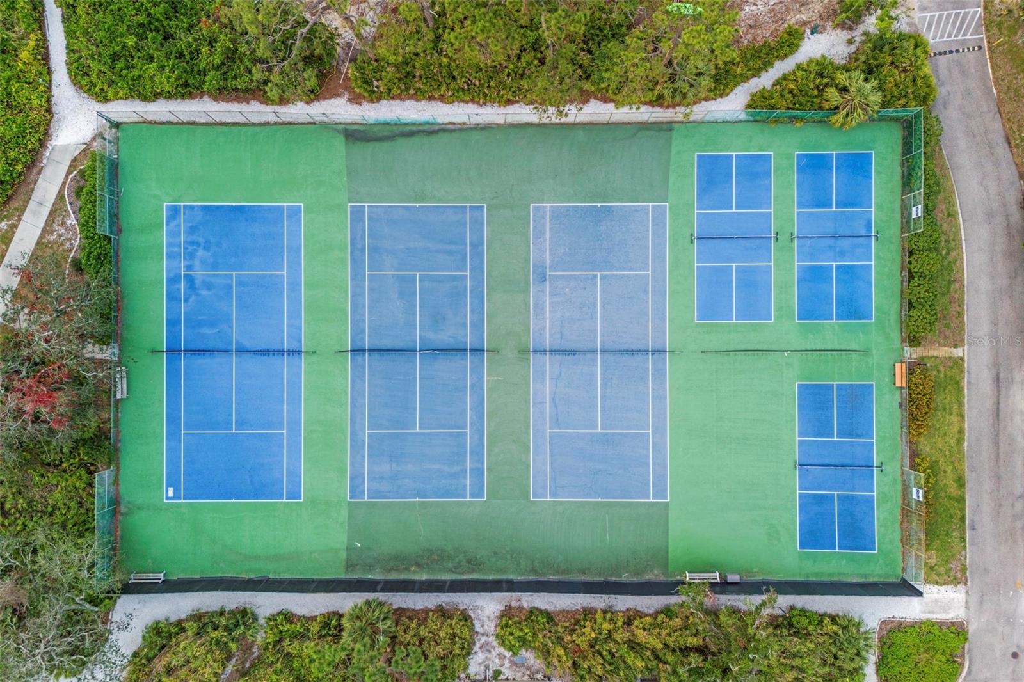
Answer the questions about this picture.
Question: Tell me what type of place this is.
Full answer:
The area seen from above is a sports ground.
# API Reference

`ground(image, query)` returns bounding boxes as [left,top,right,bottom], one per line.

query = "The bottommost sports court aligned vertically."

[797,383,876,552]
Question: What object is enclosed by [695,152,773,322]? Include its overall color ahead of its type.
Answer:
blue sports court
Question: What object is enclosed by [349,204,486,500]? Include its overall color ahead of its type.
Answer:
blue tennis court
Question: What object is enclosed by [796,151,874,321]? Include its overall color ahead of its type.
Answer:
blue sports court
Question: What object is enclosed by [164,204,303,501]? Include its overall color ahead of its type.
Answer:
blue tennis court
